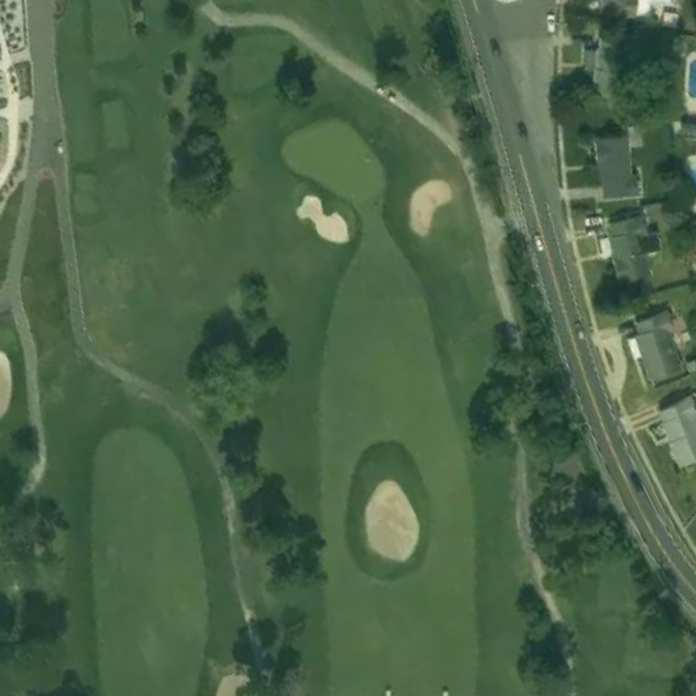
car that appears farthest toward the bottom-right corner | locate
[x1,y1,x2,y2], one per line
[629,473,643,493]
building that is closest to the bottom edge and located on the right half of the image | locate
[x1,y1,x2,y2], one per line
[660,395,696,468]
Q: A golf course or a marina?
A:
golf course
